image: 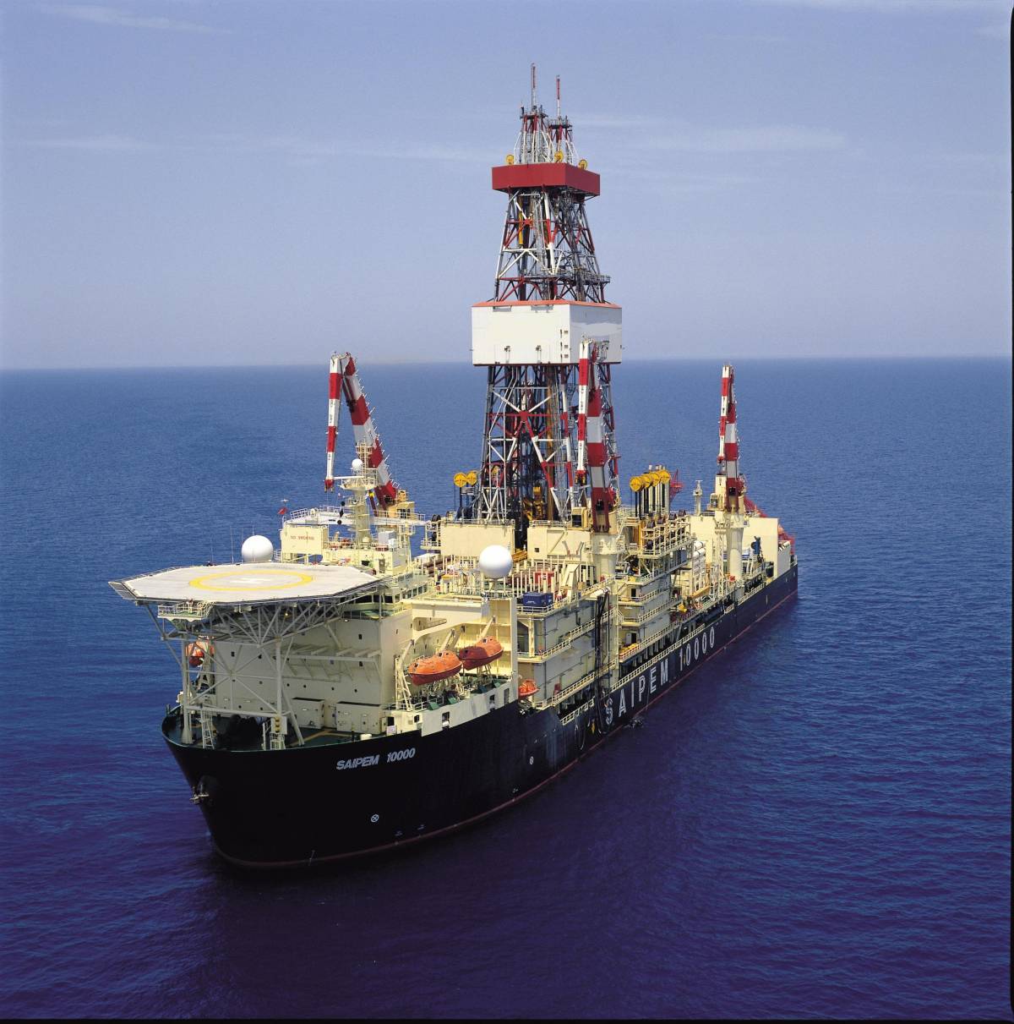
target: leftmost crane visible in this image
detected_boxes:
[324,344,431,549]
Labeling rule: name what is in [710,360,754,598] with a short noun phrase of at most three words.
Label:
crane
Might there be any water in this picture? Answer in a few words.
Yes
